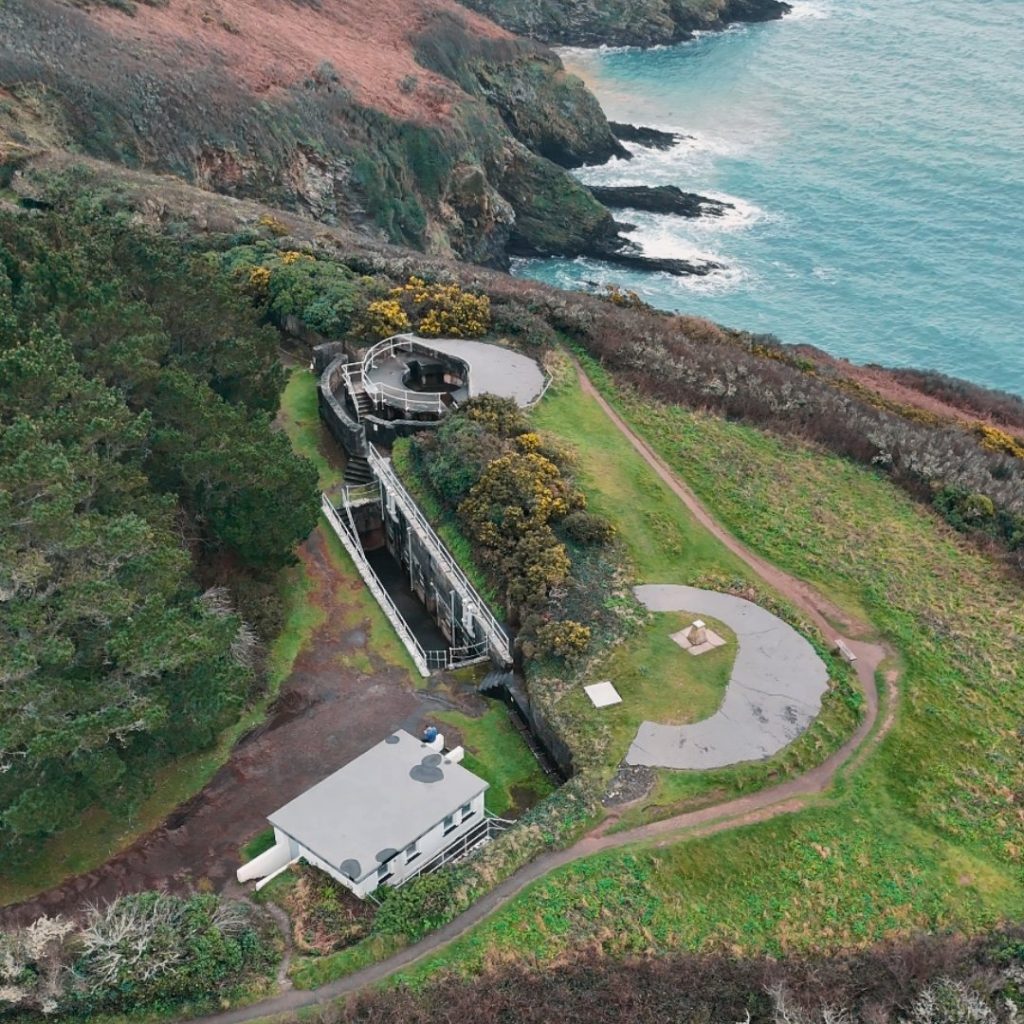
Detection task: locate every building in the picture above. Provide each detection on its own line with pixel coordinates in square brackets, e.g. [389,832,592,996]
[238,729,486,908]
